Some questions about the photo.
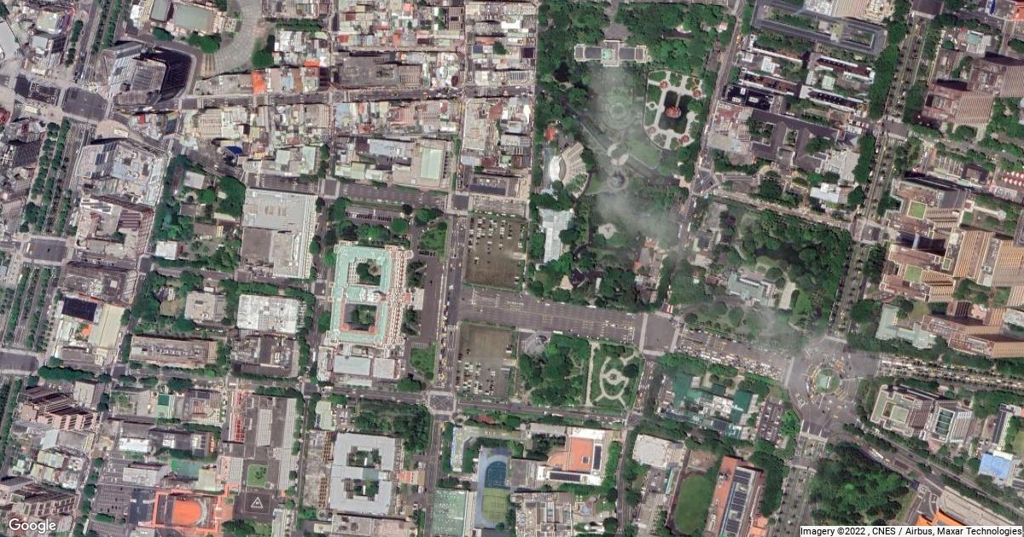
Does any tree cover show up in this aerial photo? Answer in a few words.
Yes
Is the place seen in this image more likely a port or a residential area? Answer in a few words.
residential area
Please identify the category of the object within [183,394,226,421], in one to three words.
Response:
building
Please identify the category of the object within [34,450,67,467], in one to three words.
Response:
house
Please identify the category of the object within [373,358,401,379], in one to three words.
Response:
building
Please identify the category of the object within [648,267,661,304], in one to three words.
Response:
house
